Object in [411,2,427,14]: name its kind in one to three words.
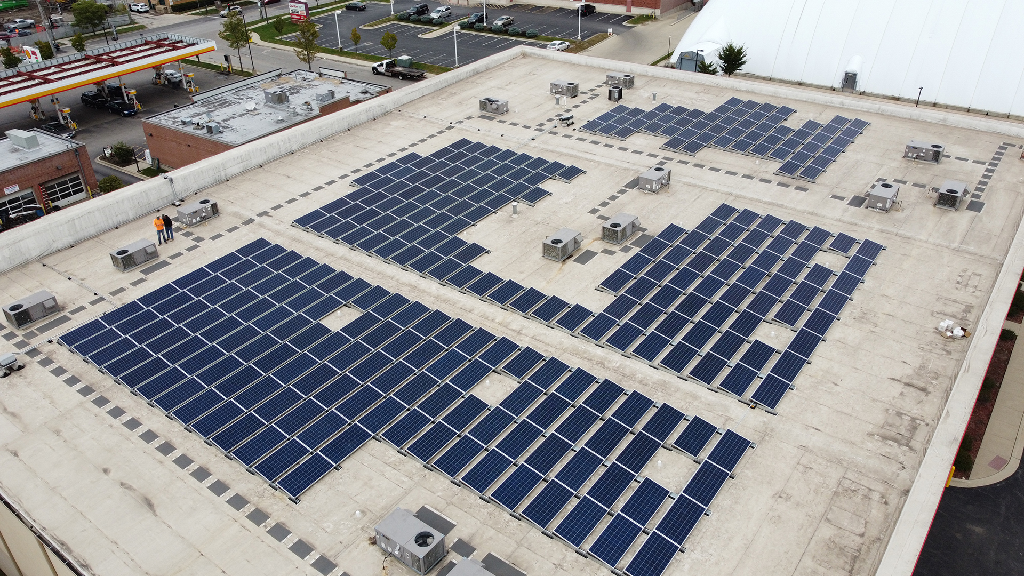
vehicle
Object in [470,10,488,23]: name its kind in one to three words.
vehicle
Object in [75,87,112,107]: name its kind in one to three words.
car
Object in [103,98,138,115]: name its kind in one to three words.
car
